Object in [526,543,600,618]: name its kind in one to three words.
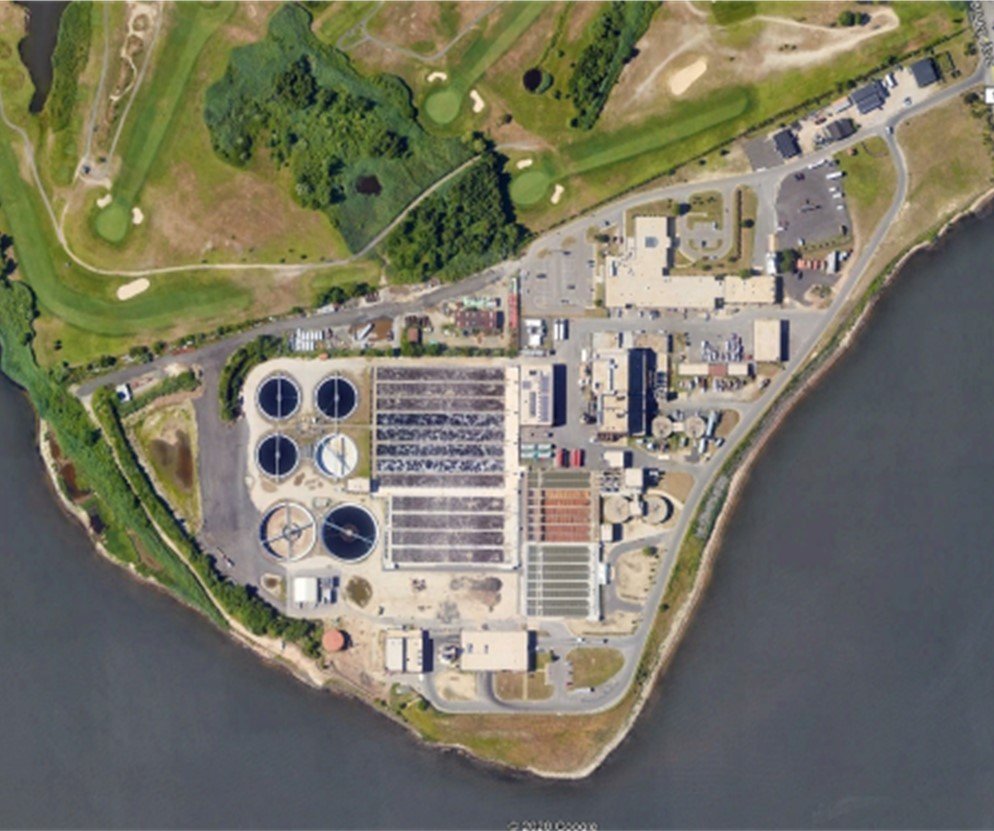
storage tank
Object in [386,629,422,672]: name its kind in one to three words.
building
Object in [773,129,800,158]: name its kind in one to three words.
shed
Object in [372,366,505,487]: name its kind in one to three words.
storage tank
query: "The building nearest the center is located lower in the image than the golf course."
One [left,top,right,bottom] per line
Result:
[520,364,552,424]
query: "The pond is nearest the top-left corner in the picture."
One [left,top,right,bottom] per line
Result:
[19,0,71,114]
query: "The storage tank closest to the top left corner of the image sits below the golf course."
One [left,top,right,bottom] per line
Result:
[256,375,302,420]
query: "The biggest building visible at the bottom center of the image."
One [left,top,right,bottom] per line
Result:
[461,631,527,672]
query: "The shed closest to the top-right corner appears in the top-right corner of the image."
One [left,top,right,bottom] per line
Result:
[911,56,941,87]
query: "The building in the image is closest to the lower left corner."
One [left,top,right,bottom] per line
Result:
[294,578,316,603]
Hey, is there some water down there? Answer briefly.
Yes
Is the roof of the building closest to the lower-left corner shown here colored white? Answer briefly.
Yes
